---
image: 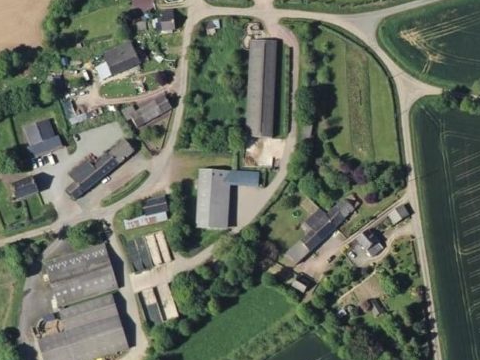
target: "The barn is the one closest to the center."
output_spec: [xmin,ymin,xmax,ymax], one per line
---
[196,169,259,229]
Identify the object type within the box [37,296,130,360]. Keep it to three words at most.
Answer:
barn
